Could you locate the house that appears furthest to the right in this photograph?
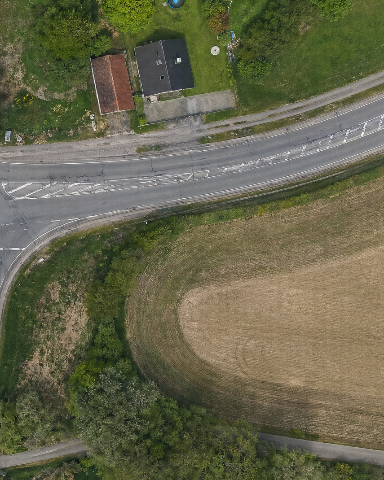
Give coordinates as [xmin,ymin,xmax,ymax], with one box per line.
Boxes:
[134,39,195,98]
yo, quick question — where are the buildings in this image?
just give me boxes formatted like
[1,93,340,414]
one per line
[134,39,195,98]
[91,54,135,116]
